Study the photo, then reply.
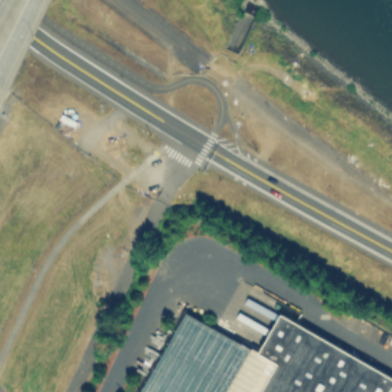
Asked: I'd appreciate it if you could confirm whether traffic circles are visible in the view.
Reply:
No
